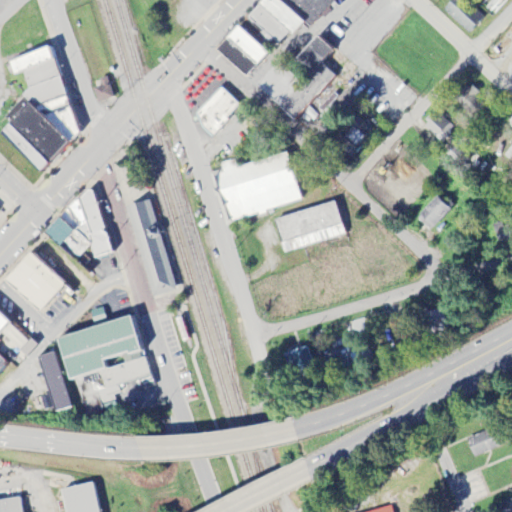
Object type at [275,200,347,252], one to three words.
barn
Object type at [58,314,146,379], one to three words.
building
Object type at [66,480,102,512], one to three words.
building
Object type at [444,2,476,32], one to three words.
house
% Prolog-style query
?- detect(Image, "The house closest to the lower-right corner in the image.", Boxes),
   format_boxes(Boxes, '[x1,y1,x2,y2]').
[471,430,499,456]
